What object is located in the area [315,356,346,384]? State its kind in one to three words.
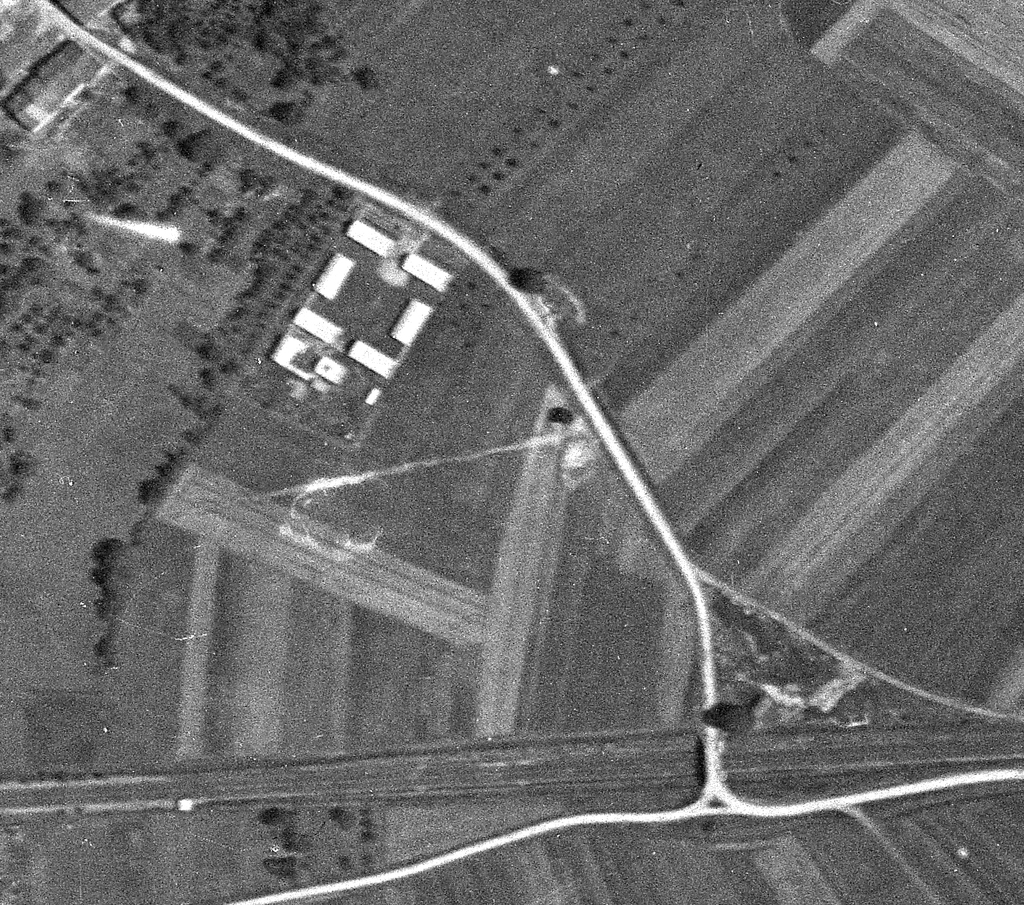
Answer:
building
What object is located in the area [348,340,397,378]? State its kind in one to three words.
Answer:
shed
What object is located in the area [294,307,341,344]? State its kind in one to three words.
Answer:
shed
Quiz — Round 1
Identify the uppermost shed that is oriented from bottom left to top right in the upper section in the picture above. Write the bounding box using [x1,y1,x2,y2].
[316,253,355,298]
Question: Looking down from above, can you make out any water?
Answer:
No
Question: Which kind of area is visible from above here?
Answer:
farmland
